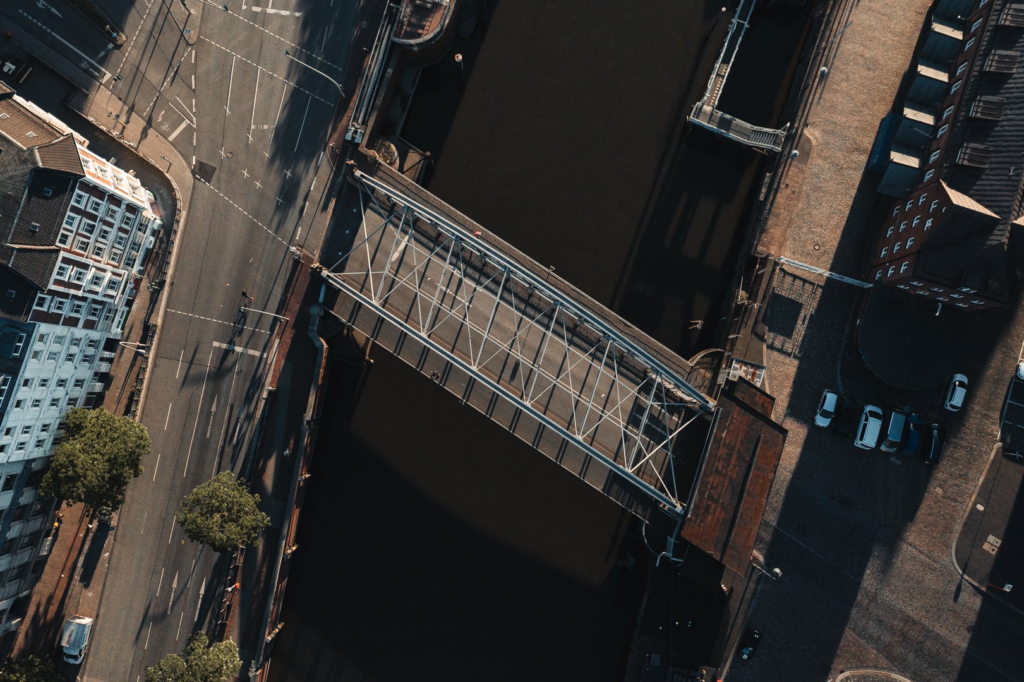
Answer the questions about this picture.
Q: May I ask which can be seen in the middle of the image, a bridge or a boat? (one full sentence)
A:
Looking in the middle of the image, you will find a bridge.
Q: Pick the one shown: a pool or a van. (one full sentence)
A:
I can see a van in this picture.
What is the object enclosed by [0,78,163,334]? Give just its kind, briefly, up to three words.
building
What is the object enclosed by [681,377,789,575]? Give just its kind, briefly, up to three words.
building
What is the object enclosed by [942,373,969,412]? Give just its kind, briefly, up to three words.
car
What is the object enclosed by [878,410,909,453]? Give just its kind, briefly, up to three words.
van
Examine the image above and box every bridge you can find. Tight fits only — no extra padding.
[313,158,723,528]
